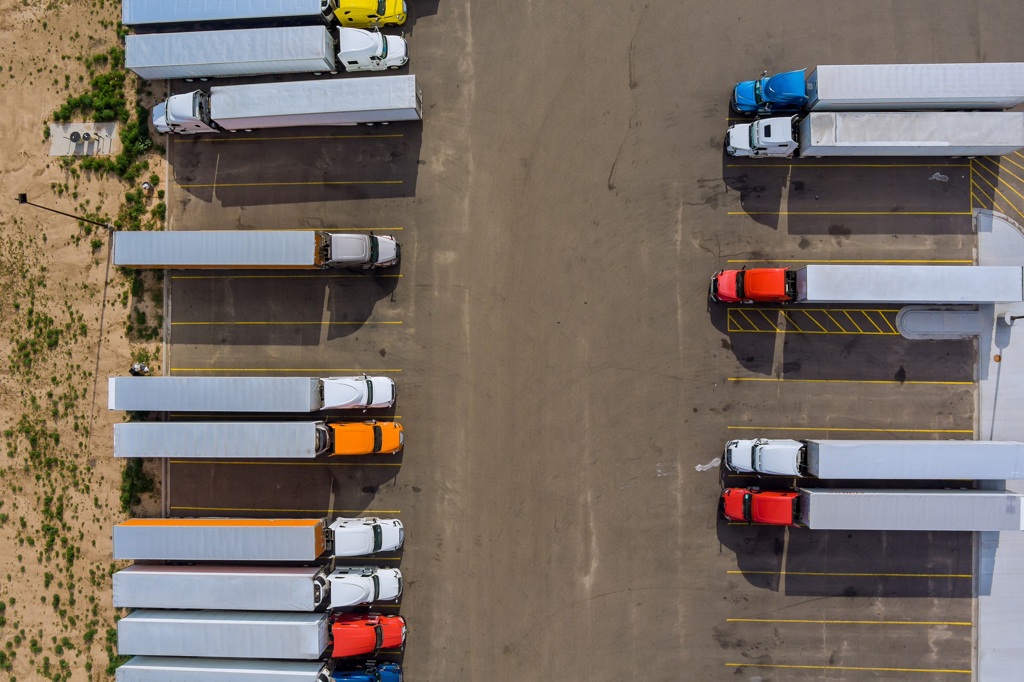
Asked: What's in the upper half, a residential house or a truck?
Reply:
truck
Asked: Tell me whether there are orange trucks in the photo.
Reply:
Yes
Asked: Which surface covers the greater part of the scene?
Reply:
paved ground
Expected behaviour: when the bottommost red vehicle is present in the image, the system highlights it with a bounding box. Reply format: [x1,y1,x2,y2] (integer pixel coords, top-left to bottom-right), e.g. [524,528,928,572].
[313,609,407,659]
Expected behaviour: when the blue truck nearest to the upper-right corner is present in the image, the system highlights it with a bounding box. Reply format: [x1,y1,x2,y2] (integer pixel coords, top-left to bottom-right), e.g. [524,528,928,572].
[730,67,835,115]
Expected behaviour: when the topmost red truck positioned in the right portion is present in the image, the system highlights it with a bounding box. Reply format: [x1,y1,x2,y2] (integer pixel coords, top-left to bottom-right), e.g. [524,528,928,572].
[709,264,796,305]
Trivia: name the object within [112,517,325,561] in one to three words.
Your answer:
trailer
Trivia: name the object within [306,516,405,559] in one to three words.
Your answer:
truck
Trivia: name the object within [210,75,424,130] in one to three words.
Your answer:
trailer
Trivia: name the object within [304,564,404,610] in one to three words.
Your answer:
truck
